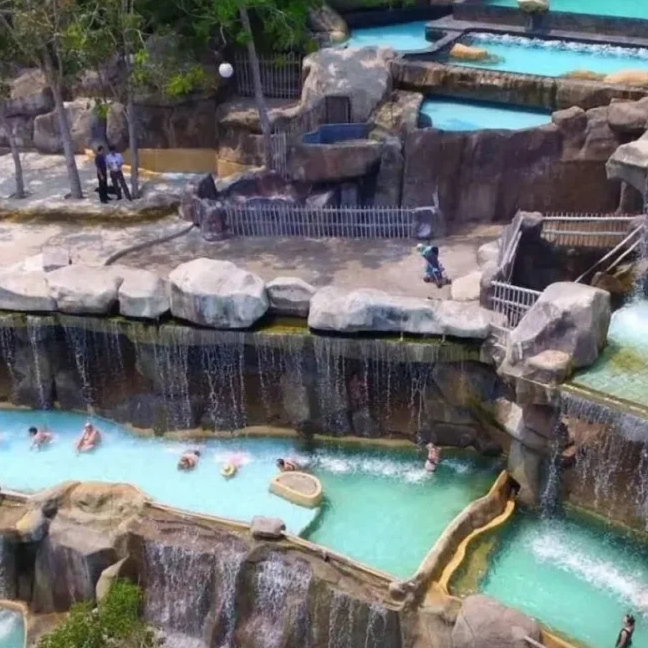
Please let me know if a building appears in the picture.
No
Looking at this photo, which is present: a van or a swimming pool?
swimming pool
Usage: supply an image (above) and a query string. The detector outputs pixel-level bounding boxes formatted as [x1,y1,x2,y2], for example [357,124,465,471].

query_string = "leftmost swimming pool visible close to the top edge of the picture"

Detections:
[329,18,448,60]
